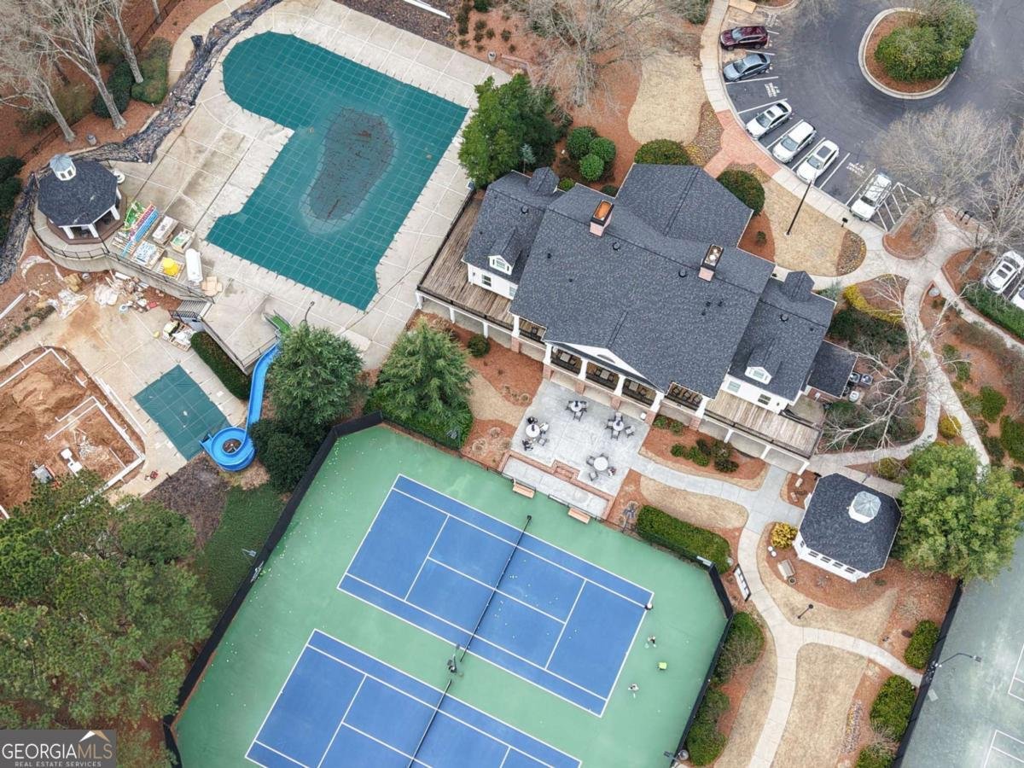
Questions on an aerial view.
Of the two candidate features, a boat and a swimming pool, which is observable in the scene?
swimming pool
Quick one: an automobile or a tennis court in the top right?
automobile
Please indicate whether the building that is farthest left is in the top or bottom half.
top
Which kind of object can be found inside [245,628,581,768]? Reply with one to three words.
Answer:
tennis court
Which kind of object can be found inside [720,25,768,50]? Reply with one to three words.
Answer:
car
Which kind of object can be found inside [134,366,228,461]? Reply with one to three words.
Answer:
swimming pool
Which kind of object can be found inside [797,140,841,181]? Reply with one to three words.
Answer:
car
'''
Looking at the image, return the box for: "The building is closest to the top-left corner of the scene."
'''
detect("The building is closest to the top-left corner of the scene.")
[34,158,129,244]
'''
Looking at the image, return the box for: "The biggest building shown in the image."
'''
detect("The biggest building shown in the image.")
[414,162,833,476]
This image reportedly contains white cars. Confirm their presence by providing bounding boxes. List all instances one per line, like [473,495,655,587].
[797,140,841,181]
[981,248,1024,292]
[747,103,793,140]
[852,172,895,219]
[1007,278,1024,309]
[775,122,817,161]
